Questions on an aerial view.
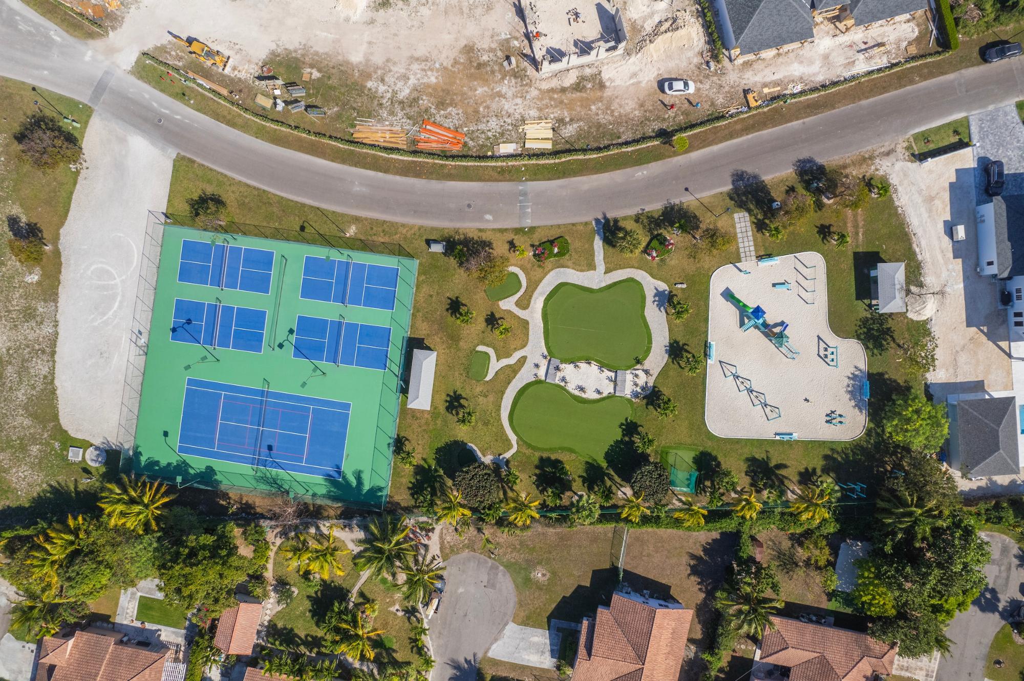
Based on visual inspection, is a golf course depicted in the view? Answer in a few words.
Yes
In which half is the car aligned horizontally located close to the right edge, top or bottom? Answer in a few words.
top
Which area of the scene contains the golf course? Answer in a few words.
center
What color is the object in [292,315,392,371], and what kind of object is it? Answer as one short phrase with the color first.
blue sports court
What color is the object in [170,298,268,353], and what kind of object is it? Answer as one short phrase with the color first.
blue sports court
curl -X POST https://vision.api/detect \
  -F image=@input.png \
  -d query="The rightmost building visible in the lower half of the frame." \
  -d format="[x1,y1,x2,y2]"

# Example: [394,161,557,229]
[949,396,1020,478]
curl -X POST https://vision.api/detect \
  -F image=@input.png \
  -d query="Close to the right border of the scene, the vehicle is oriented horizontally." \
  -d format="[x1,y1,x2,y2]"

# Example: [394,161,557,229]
[985,39,1024,61]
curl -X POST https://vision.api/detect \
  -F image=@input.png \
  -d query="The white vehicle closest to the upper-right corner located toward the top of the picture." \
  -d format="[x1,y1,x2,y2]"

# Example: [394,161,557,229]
[664,77,695,93]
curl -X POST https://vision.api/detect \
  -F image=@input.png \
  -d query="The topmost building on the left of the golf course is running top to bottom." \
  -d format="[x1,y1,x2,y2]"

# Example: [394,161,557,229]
[407,349,438,410]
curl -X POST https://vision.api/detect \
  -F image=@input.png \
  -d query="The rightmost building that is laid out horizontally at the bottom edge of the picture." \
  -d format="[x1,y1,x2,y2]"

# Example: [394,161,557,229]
[752,613,896,681]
